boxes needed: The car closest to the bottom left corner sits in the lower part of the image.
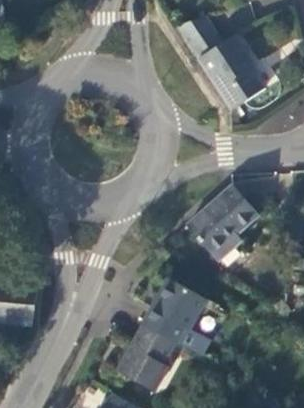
[76,319,92,342]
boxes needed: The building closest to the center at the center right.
[186,182,267,268]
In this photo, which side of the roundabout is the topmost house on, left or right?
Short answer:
to the right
